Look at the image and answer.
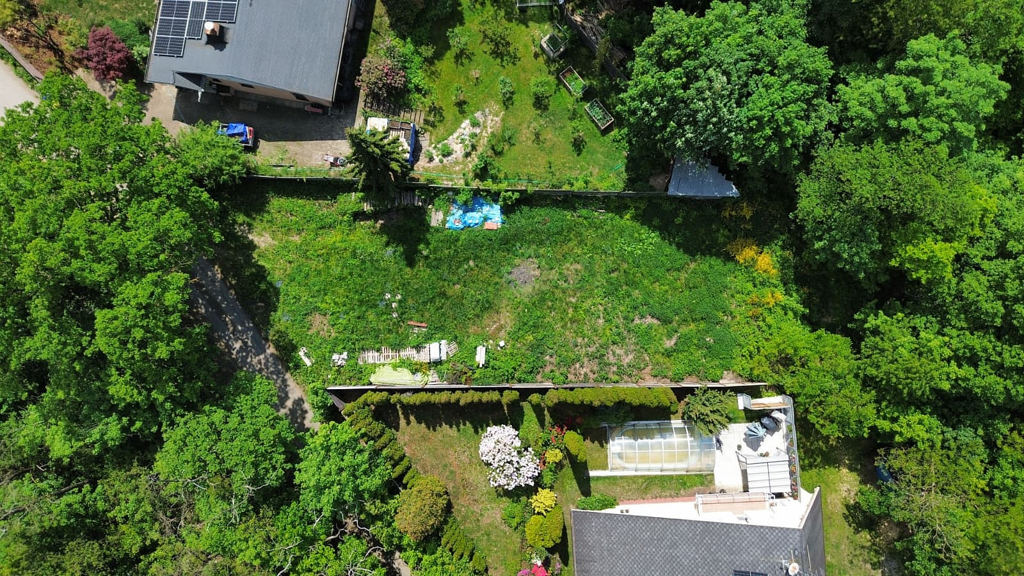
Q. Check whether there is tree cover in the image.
Yes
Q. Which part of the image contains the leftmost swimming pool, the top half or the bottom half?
bottom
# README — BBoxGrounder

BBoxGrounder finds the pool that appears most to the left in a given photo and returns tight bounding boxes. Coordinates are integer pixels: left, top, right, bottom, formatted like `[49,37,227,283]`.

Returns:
[611,424,709,473]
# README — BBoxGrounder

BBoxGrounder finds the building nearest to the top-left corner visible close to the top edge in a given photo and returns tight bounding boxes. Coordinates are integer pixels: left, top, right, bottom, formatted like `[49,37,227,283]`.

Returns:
[144,0,356,110]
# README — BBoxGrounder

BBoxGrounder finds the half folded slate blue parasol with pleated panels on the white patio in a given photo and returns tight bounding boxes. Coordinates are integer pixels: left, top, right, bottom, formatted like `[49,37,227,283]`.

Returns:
[744,417,769,440]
